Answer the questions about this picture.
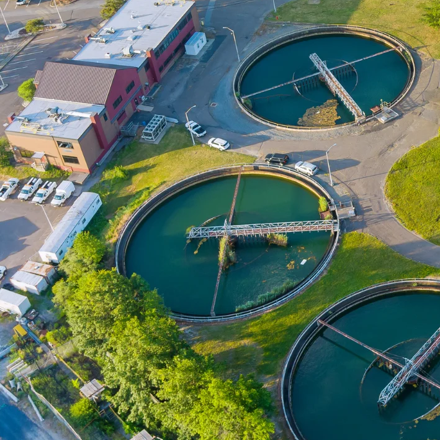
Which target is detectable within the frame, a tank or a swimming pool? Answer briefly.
tank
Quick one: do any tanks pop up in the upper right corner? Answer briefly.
Yes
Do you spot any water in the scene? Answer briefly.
Yes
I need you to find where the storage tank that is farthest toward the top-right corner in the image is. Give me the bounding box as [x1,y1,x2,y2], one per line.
[234,22,414,132]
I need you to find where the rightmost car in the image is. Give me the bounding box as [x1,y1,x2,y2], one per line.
[290,156,321,175]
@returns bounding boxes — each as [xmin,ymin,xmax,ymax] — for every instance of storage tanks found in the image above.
[115,162,359,321]
[234,22,414,132]
[283,276,440,440]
